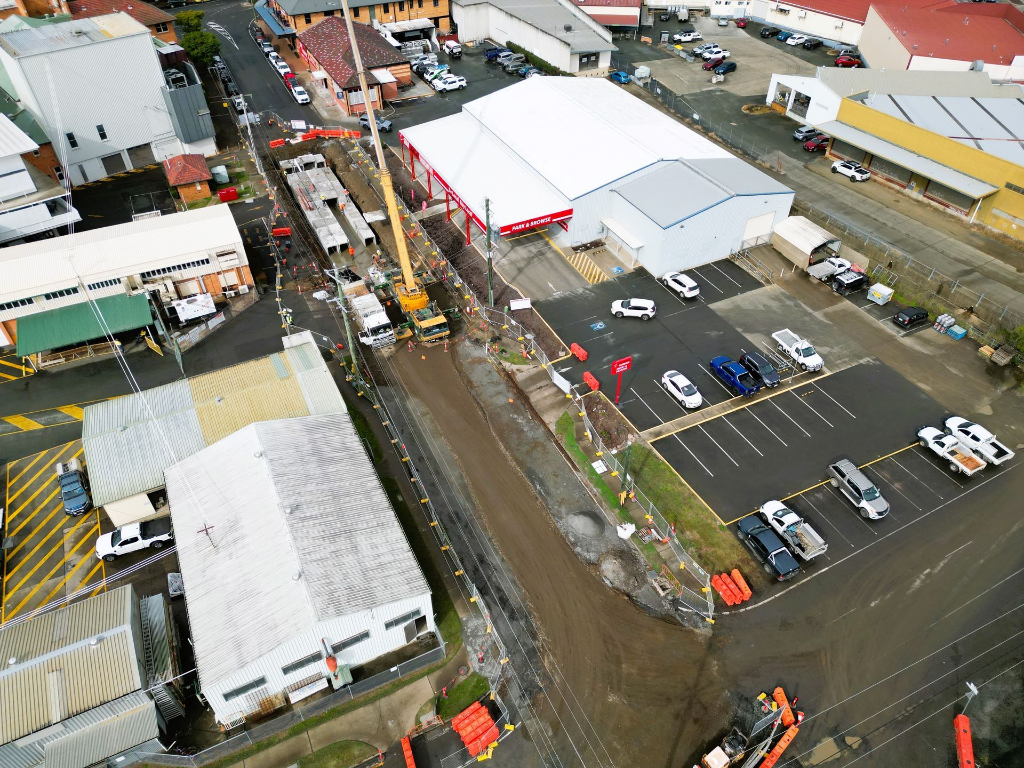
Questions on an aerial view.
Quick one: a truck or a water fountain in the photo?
truck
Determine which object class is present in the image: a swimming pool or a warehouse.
warehouse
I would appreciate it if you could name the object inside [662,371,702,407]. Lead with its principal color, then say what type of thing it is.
white car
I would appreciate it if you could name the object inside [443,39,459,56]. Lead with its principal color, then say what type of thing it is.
white vehicle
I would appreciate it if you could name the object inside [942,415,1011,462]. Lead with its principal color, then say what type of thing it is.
white truck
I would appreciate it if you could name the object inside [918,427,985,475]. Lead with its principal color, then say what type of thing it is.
white truck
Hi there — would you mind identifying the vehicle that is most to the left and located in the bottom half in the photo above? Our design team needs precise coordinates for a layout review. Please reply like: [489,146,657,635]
[50,459,89,514]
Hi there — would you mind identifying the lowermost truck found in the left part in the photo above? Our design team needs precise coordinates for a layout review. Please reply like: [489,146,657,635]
[96,519,172,561]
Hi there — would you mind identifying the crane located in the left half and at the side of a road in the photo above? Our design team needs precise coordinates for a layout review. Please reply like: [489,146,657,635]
[333,0,459,347]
